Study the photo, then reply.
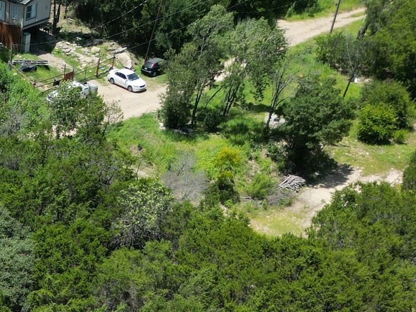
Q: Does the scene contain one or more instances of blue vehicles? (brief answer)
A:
No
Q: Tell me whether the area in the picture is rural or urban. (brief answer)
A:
rural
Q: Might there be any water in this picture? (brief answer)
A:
No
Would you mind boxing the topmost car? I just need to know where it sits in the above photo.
[142,59,163,77]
